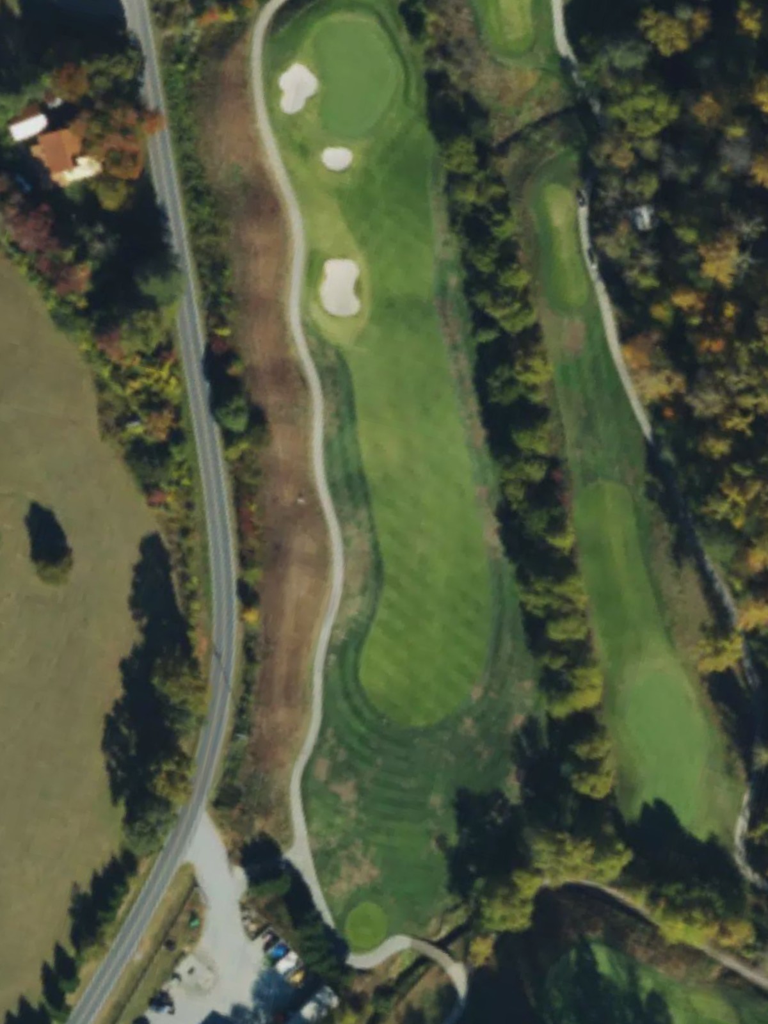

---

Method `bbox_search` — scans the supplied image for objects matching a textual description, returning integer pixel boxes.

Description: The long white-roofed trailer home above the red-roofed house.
[9,110,48,141]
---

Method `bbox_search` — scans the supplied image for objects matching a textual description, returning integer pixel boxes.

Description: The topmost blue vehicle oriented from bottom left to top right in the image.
[268,941,287,958]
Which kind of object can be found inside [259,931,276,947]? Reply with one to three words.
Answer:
car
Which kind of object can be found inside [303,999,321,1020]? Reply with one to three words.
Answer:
vehicle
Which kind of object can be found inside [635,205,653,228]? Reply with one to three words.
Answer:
shed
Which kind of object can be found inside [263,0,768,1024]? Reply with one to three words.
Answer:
golf course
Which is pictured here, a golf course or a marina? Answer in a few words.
golf course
